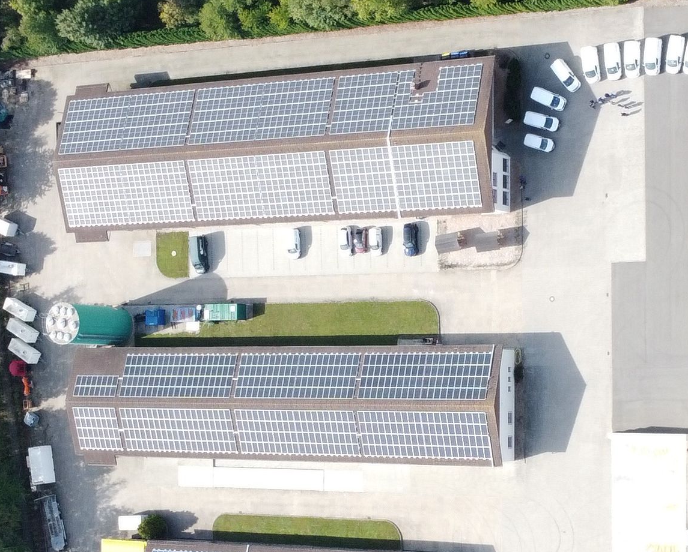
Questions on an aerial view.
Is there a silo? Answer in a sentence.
Yes, the image includes a silo.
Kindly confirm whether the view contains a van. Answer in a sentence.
Yes, the photo shows a van.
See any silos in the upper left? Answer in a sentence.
No, in the upper left there is no silo.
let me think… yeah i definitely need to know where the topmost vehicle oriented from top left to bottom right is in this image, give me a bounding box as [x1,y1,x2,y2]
[550,58,582,93]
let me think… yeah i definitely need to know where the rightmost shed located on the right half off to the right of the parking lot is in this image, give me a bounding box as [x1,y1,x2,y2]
[473,233,502,252]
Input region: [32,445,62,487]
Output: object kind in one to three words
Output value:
truck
